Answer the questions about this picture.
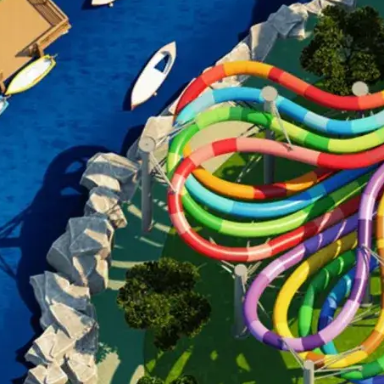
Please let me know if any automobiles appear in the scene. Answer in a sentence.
No, I can't see a single automobile in this photo.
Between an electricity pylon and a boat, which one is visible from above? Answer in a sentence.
There is a boat in the scene.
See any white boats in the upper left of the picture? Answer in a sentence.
Yes, a white boat appears in the upper left of the picture.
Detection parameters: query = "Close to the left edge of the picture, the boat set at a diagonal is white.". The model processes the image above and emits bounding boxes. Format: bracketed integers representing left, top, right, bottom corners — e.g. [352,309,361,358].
[4,51,57,92]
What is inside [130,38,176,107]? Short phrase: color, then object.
white boat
